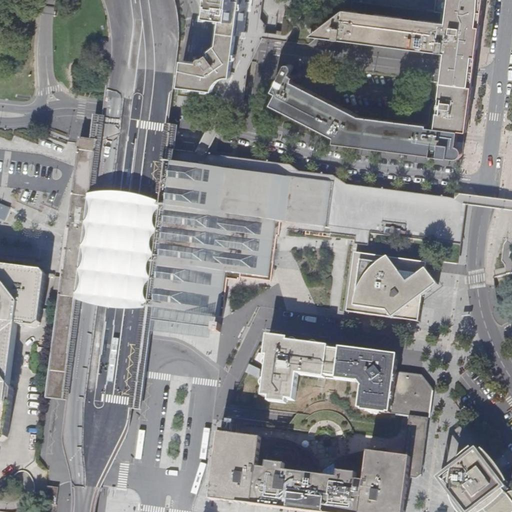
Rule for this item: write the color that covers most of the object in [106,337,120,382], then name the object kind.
white vehicle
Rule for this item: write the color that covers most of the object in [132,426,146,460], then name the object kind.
white vehicle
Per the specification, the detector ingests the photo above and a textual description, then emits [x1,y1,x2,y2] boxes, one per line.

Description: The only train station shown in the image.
[150,149,332,338]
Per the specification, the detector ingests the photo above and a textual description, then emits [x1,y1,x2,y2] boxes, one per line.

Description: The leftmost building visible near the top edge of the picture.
[175,0,240,96]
